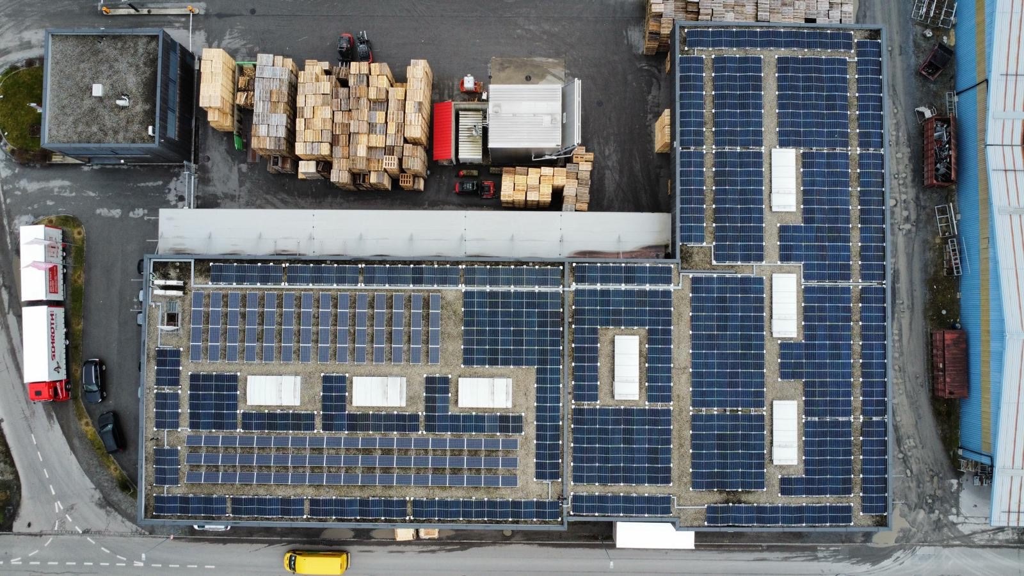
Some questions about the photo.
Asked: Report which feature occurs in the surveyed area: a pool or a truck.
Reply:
truck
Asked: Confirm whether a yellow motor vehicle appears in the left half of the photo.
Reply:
Yes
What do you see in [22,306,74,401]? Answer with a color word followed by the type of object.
white truck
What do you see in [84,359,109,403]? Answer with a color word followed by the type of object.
black car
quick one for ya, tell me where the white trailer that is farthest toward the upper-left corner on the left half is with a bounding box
[20,225,71,306]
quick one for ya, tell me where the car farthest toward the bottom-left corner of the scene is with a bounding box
[98,410,127,455]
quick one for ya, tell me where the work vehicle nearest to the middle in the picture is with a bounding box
[458,181,492,198]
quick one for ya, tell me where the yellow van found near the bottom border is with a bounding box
[287,546,354,574]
